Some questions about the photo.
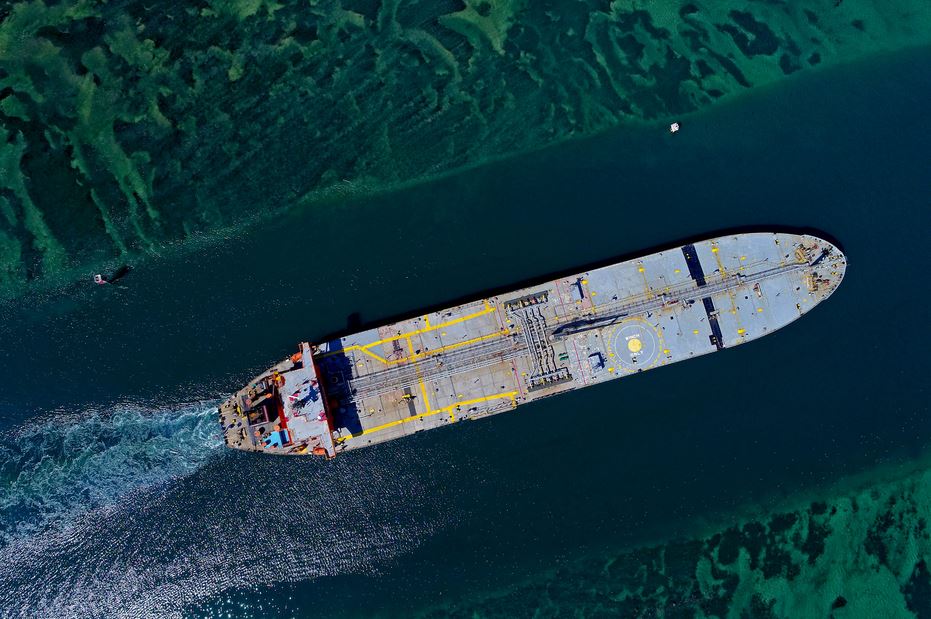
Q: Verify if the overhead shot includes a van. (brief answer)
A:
No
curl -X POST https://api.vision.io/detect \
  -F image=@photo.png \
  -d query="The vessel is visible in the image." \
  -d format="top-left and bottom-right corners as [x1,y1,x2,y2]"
[217,235,848,458]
